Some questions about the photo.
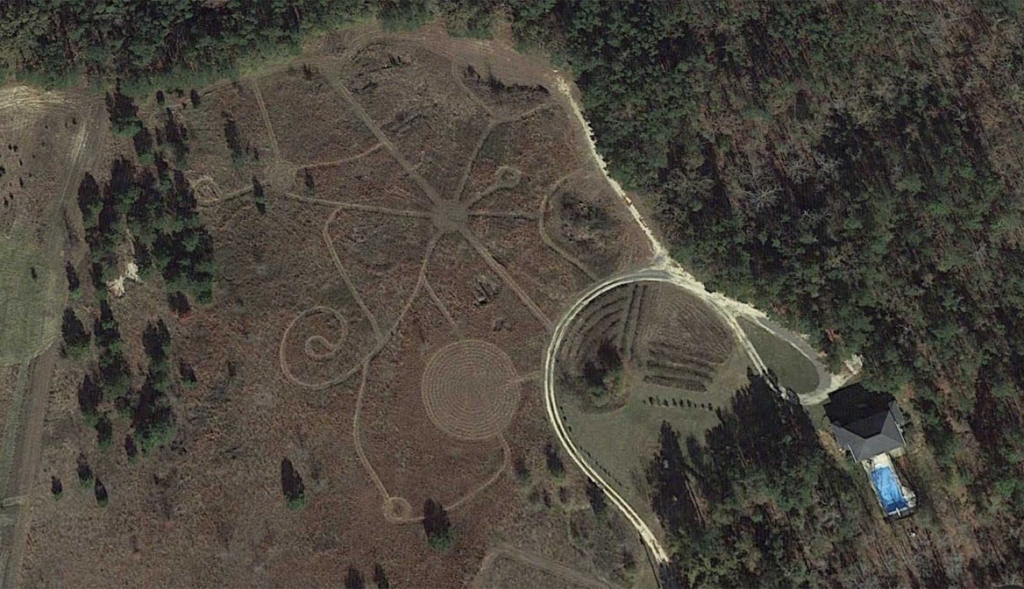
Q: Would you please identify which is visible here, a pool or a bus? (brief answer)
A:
pool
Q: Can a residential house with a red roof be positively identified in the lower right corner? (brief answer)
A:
No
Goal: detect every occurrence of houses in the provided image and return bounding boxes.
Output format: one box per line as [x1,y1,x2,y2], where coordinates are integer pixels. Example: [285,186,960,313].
[830,399,909,466]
